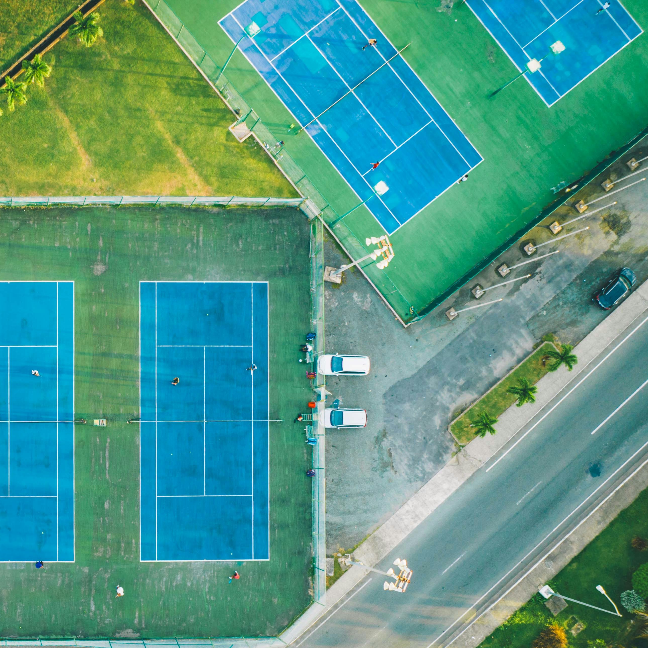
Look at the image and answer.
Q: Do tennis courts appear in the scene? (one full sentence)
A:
Yes, the image includes a tennis court.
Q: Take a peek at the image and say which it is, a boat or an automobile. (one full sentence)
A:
This aerial view contains an automobile.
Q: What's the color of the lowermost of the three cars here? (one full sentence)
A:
The lowermost of the three cars looks white in the image.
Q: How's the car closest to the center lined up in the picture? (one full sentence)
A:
The car closest to the center is laid out horizontally.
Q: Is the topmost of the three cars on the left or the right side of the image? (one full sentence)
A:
The topmost of the three cars is on the right side of the image.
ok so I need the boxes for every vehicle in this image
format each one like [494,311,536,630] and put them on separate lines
[589,262,637,314]
[317,405,369,432]
[315,351,370,378]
